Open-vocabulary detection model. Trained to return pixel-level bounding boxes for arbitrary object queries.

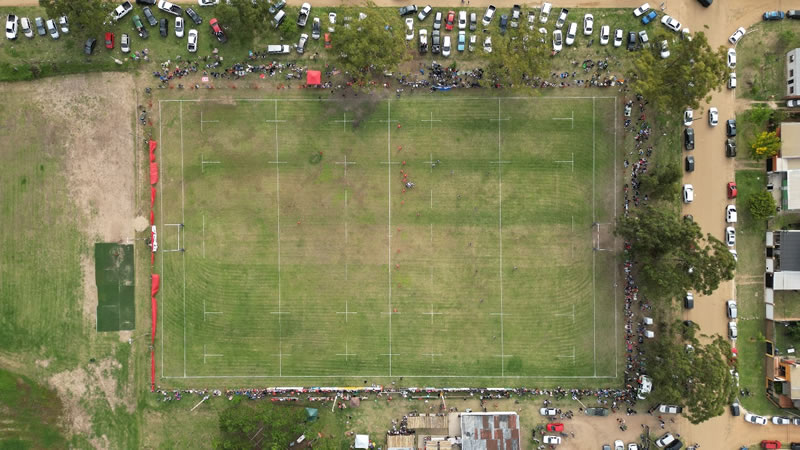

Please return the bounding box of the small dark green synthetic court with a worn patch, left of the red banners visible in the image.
[95,243,134,331]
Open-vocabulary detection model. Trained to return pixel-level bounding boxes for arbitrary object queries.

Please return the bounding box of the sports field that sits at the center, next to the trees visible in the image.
[157,95,621,382]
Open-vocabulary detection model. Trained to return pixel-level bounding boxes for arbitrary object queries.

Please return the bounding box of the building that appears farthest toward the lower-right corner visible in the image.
[766,362,800,412]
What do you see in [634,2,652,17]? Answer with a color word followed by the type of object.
white car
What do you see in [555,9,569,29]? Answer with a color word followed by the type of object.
white vehicle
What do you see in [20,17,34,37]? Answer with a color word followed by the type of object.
white car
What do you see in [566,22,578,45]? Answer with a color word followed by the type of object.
white vehicle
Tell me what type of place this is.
sports ground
